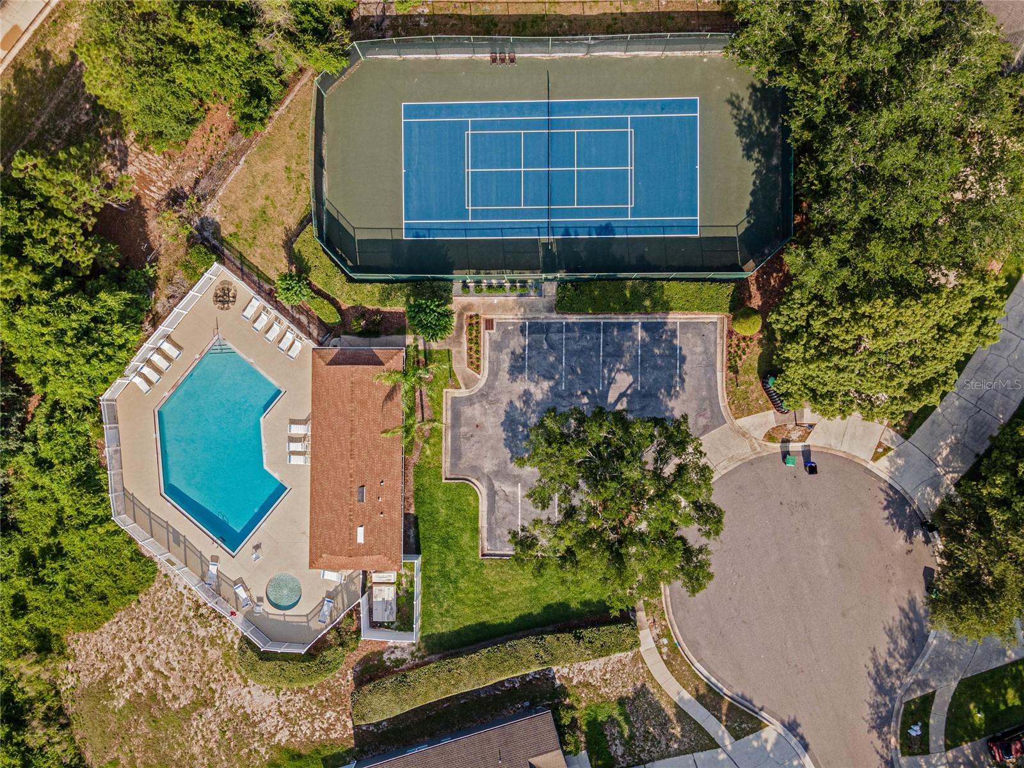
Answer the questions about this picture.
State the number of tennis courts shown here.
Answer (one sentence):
Just 1 tennis court appears in this view.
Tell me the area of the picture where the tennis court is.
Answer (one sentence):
Look in the top portion of the view to spot the tennis court.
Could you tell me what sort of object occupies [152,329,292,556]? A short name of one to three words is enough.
swimming pool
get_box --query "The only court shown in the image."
[323,53,777,278]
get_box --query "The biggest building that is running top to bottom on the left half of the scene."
[311,346,406,571]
